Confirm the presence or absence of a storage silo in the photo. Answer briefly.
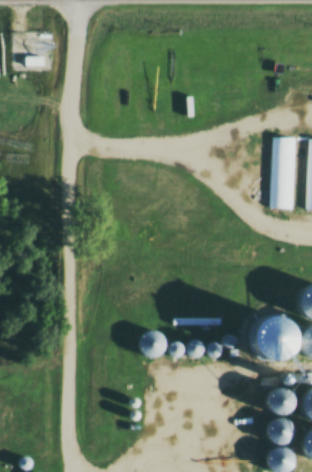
Yes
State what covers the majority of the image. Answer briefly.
grass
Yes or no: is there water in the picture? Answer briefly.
No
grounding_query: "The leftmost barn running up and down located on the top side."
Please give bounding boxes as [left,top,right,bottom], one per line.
[270,137,296,211]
